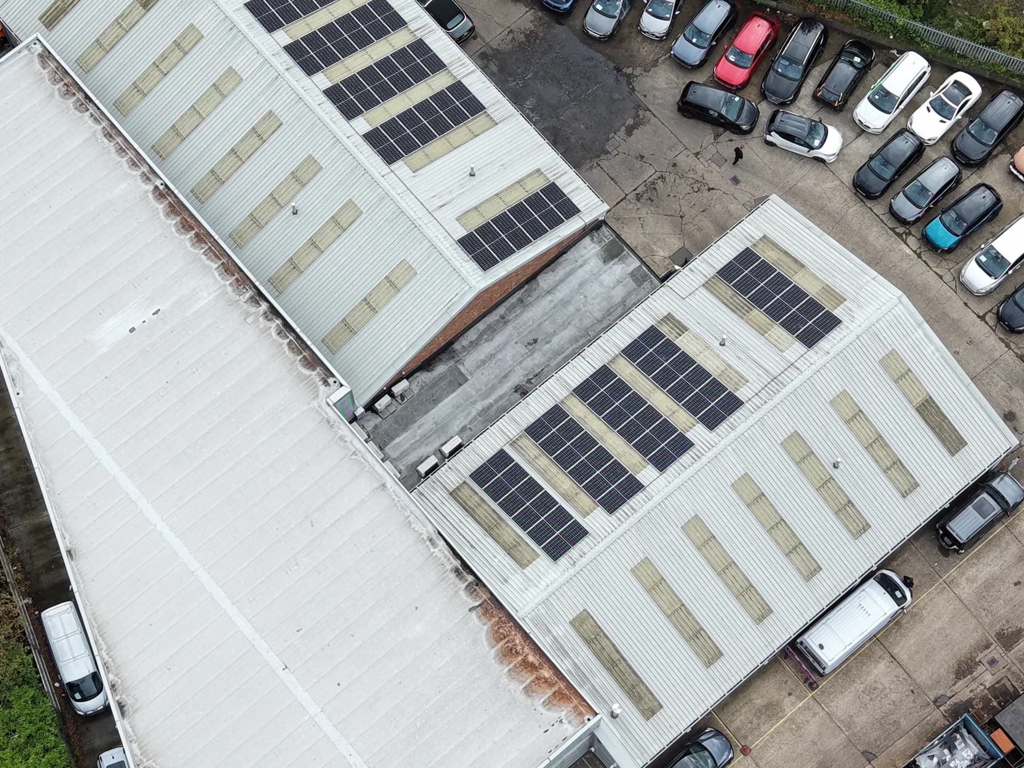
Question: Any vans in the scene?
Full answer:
Yes, there is a van in the image.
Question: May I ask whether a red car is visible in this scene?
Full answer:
Yes, a red car is visible in the scene.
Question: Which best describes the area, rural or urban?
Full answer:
This place is urban.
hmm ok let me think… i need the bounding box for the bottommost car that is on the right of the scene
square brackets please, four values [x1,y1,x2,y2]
[664,730,734,768]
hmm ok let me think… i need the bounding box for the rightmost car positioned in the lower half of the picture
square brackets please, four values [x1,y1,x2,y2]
[939,472,1024,556]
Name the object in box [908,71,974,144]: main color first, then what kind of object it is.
white car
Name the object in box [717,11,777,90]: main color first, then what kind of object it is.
red car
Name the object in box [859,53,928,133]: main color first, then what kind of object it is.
white car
